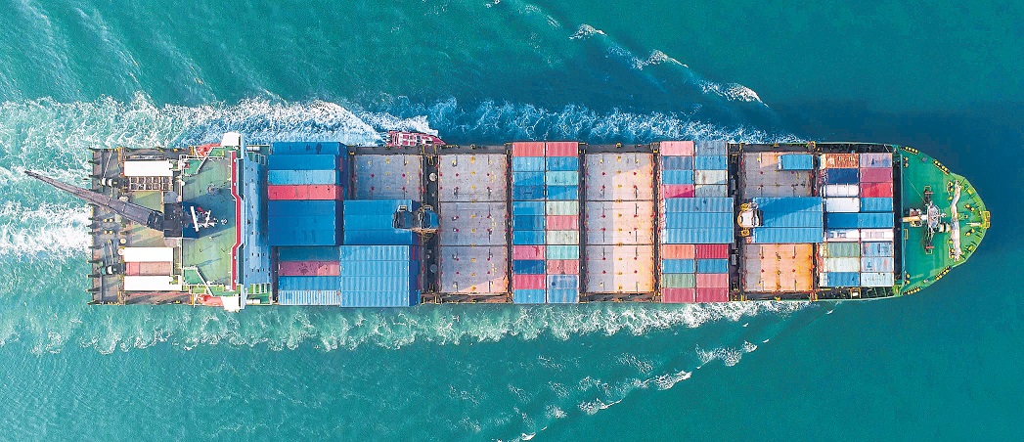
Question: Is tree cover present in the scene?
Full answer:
No, the scene doesn't show any tree cover.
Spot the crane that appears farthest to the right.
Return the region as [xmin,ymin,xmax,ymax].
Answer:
[726,203,763,234]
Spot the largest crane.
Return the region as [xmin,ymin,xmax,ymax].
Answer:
[21,170,202,238]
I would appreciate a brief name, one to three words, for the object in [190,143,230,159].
boat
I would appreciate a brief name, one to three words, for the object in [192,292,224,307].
boat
